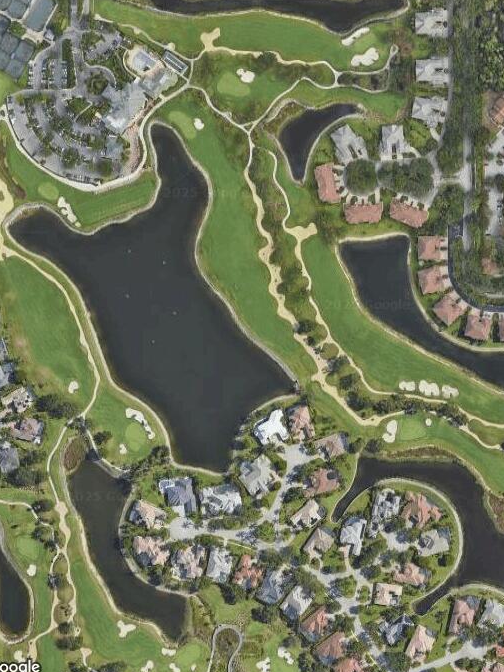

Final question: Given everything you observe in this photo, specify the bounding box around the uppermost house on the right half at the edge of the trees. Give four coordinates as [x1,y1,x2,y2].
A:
[414,9,448,36]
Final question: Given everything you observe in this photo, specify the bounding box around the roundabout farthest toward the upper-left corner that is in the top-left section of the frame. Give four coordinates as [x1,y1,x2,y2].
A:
[76,63,116,102]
